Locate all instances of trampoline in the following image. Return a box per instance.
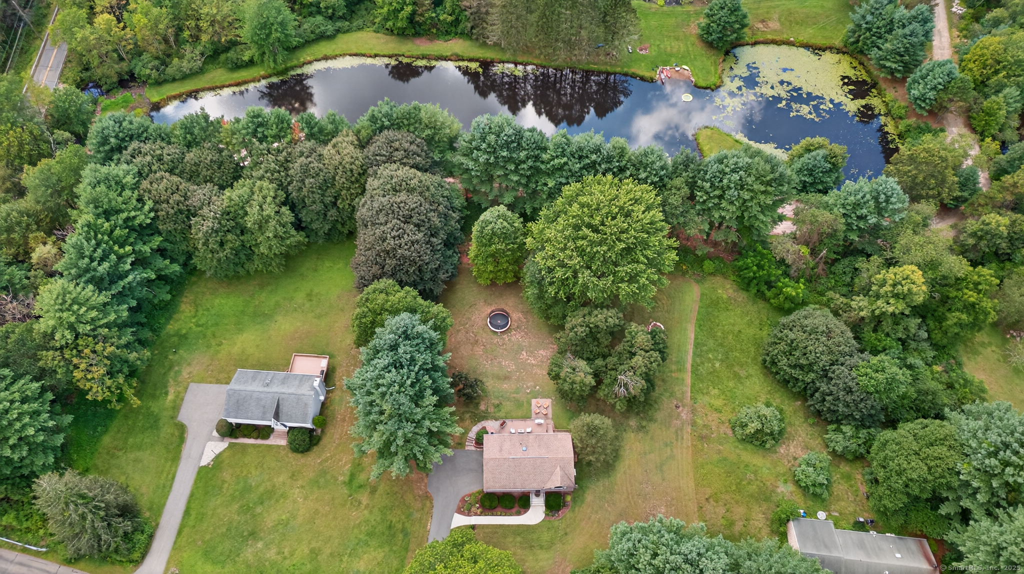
[488,307,510,336]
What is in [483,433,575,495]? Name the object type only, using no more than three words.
house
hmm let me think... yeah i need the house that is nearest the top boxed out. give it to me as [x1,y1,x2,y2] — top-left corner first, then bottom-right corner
[223,370,328,432]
